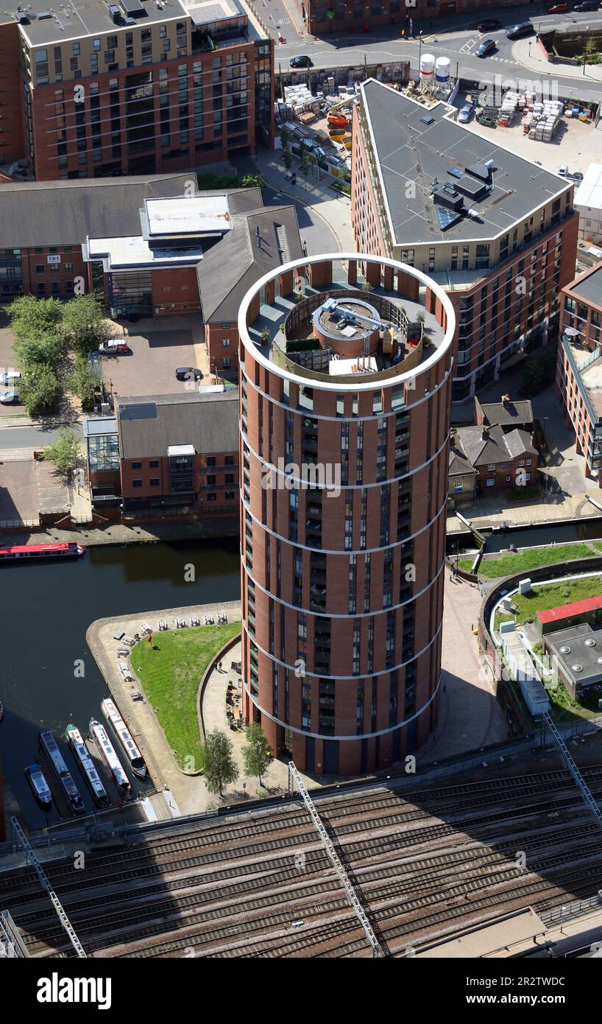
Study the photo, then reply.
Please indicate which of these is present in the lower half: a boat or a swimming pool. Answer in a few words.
boat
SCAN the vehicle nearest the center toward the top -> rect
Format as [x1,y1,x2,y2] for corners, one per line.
[176,368,203,381]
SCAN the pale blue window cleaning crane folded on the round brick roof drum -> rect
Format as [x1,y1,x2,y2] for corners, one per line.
[318,299,408,334]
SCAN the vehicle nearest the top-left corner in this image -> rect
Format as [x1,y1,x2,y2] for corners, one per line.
[288,57,313,69]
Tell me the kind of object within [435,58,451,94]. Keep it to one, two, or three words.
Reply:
silo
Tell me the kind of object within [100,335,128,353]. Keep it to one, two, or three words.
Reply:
vehicle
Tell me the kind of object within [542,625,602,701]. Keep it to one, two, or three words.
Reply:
building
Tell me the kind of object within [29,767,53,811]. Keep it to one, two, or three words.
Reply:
boat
